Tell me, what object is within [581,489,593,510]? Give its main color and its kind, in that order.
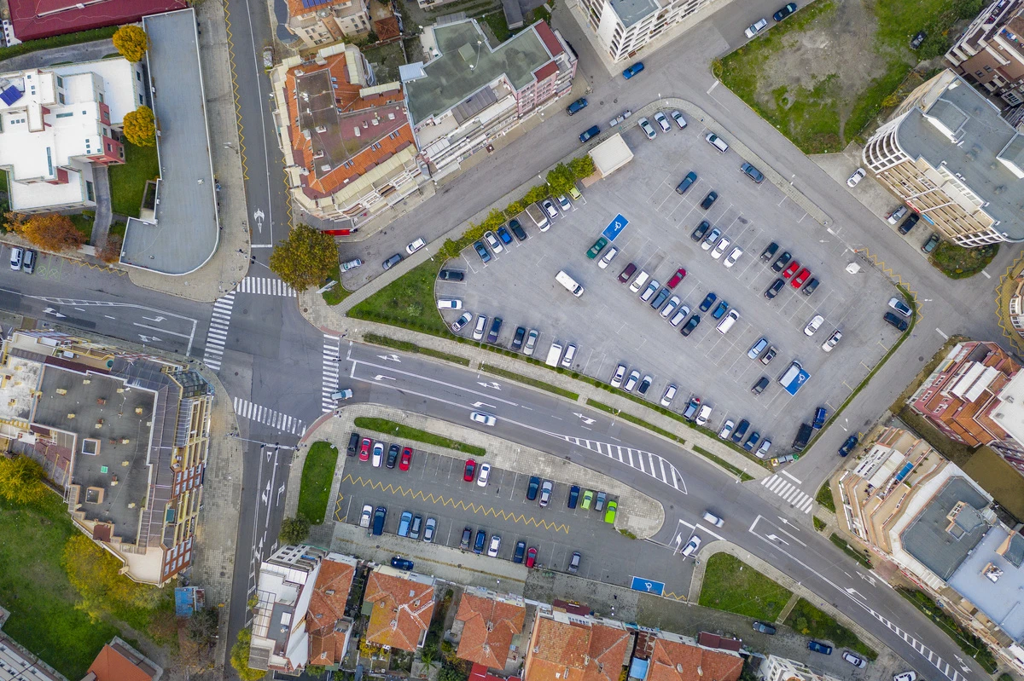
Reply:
green vehicle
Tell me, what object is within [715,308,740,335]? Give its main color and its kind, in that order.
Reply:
white vehicle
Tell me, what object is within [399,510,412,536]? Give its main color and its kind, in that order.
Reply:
blue vehicle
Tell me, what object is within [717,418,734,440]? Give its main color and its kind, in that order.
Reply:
white car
